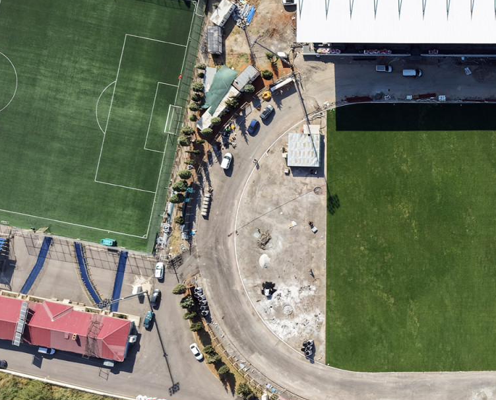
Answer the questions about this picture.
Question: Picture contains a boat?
No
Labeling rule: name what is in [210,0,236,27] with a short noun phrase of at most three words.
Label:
building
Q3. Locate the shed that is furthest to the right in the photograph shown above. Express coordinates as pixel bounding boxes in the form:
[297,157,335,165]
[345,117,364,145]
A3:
[288,133,323,167]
